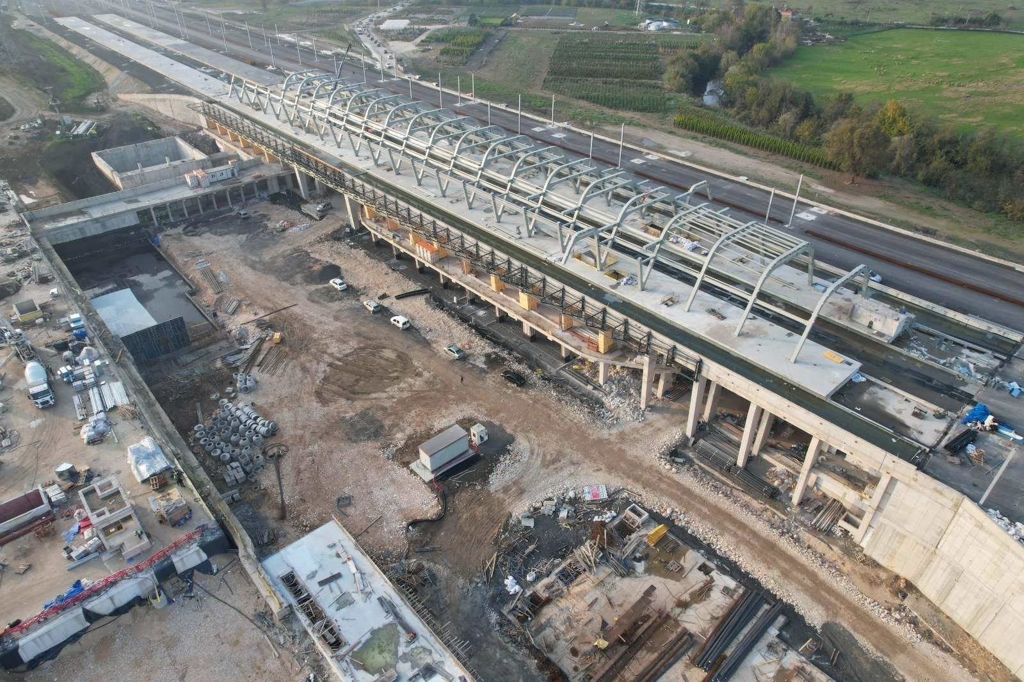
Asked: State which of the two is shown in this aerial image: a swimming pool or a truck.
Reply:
truck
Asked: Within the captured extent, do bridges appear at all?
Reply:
Yes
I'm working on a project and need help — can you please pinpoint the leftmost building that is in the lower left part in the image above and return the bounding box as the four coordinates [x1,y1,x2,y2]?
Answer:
[69,470,160,549]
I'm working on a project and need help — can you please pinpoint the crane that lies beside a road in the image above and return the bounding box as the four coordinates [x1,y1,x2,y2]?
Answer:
[319,43,354,146]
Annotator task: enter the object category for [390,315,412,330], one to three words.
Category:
vehicle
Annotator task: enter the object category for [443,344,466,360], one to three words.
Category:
car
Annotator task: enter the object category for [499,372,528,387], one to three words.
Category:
car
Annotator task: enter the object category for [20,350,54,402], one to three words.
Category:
truck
